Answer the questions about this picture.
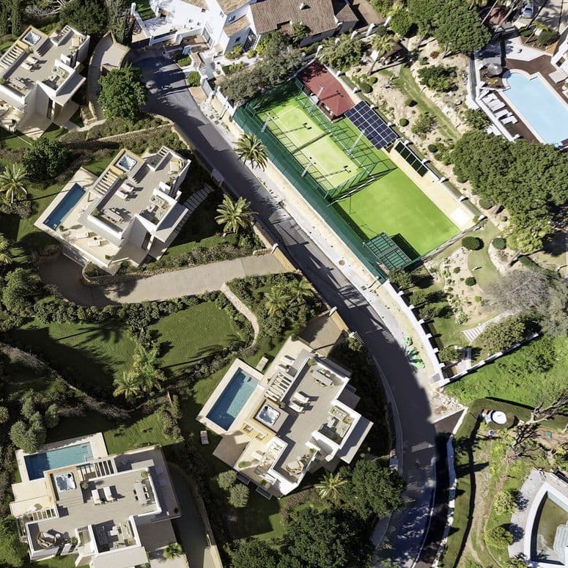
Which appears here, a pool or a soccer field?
pool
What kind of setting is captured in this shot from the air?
residential area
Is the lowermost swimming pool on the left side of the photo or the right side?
right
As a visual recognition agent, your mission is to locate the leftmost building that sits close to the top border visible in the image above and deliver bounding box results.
[0,27,102,144]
